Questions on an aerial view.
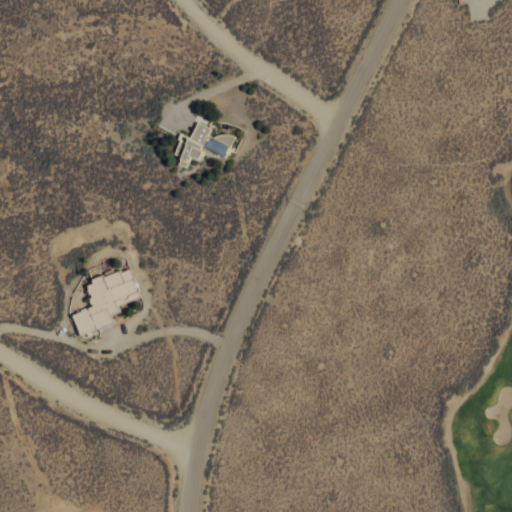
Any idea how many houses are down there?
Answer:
2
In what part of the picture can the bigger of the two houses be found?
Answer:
left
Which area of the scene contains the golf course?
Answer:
bottom right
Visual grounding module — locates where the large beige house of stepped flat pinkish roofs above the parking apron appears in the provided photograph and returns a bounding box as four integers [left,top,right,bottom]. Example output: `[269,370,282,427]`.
[72,269,140,340]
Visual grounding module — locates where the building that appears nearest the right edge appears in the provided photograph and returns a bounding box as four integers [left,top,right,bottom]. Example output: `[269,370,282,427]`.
[175,116,237,168]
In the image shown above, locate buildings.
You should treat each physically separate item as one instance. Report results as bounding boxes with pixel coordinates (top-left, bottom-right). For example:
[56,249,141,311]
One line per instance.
[175,116,237,168]
[72,269,140,340]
